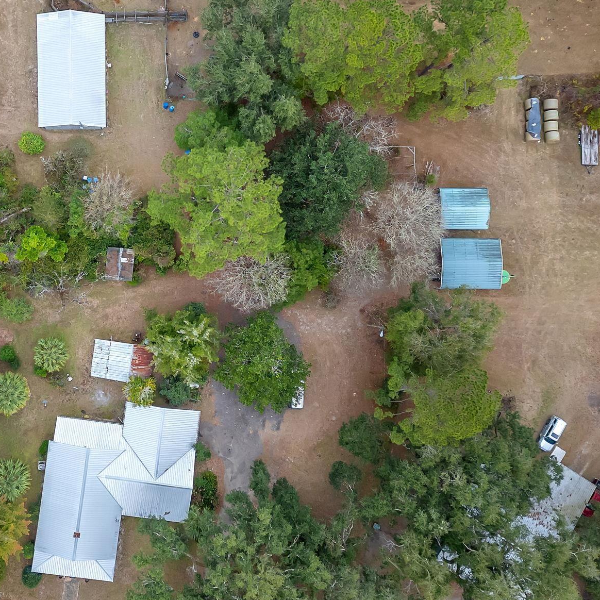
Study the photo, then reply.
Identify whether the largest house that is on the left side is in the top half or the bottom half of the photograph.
bottom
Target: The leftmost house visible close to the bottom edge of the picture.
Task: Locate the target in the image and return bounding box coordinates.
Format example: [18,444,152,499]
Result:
[31,402,201,582]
